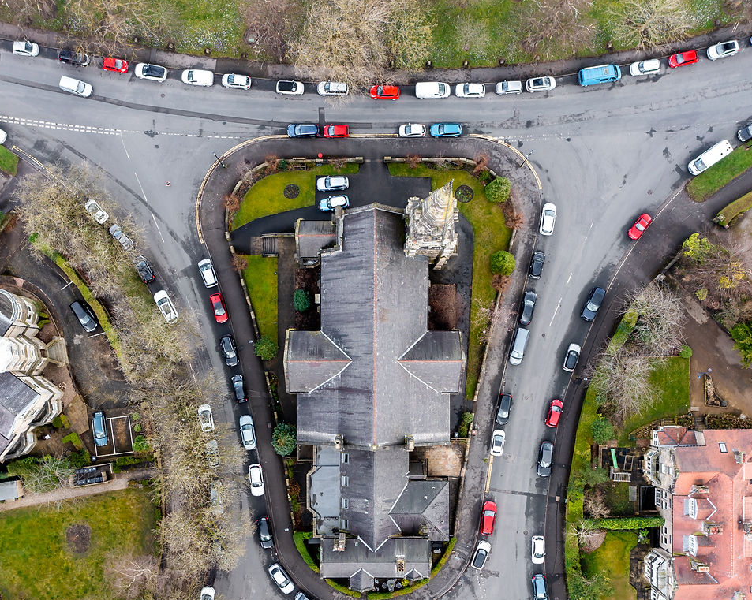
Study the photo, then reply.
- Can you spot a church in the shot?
Yes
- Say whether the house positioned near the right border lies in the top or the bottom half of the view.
bottom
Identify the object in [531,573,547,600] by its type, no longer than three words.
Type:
car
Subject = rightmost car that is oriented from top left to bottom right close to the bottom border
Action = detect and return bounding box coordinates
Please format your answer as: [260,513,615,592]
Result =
[266,560,297,593]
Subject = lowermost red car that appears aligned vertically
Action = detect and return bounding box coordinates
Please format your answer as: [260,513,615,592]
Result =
[479,500,496,535]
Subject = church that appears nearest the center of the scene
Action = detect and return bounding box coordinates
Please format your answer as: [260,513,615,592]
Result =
[282,178,467,448]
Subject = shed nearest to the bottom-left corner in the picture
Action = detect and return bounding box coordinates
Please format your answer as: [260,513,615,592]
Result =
[0,478,29,500]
